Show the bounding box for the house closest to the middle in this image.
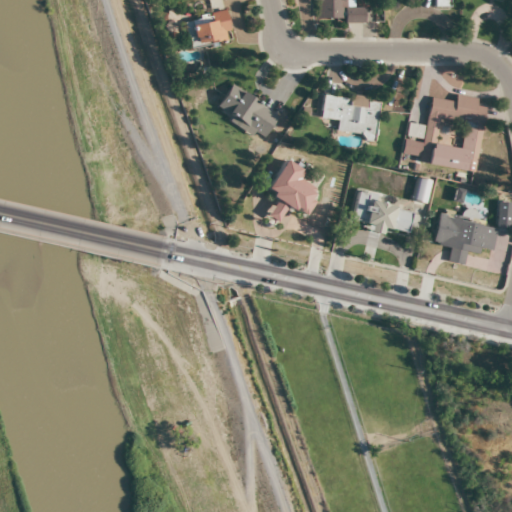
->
[268,160,320,221]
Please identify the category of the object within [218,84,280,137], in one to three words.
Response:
house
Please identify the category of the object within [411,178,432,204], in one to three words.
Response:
shed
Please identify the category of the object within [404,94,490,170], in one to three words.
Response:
house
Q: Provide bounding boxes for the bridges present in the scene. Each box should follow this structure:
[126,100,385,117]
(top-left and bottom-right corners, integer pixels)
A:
[0,199,171,273]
